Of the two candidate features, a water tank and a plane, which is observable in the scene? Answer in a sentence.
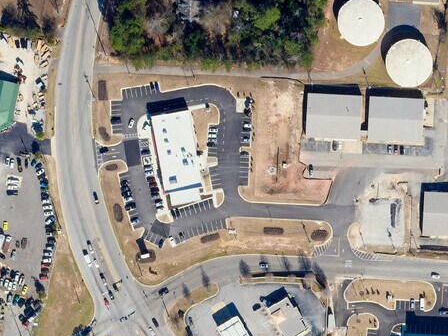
Visible in the photo is a water tank.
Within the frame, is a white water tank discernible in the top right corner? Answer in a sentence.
Yes, in the top right corner there is a white water tank.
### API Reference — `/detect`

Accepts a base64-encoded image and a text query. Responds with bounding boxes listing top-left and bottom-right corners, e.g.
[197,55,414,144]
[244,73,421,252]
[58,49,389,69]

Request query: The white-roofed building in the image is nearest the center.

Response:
[150,103,206,206]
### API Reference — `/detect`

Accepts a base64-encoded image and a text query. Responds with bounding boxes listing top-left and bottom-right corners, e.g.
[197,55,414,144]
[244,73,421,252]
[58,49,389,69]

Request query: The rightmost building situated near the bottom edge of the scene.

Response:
[267,298,308,336]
